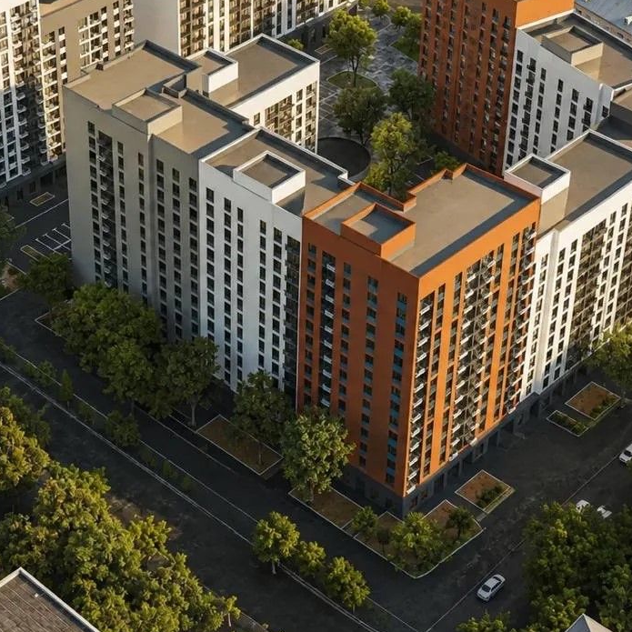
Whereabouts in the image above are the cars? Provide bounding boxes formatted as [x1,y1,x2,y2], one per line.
[569,496,594,515]
[591,501,614,516]
[618,442,632,464]
[477,574,502,597]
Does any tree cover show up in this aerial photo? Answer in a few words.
Yes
